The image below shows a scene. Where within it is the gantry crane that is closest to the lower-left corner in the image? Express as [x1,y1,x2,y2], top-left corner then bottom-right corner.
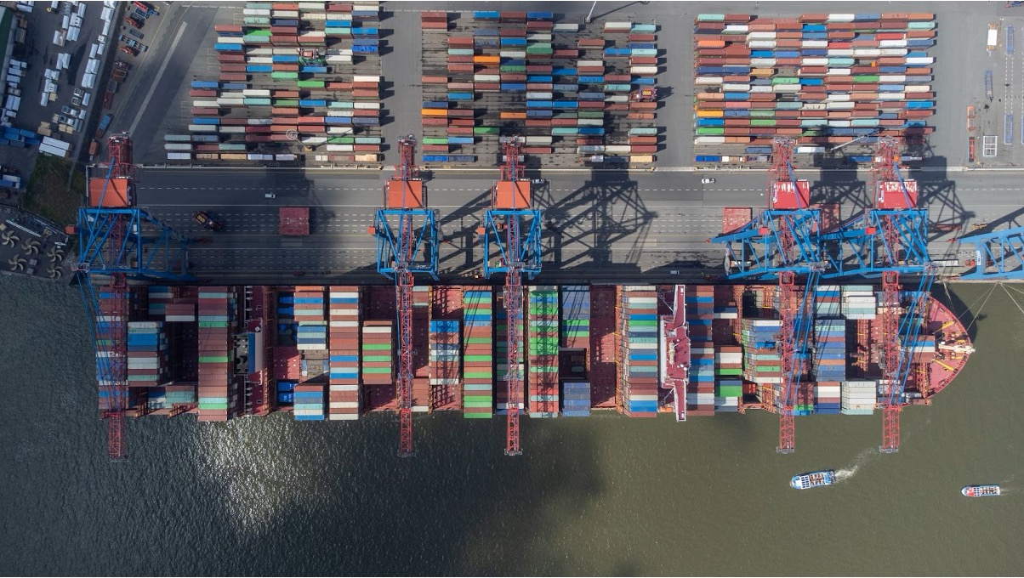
[64,130,207,460]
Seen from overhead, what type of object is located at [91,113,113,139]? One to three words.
truck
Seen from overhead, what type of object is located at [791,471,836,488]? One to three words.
boat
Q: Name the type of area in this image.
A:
port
